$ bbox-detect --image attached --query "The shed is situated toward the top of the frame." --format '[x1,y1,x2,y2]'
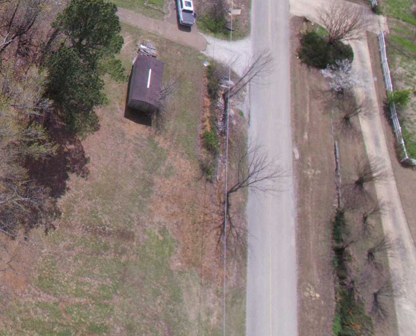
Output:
[124,54,165,119]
